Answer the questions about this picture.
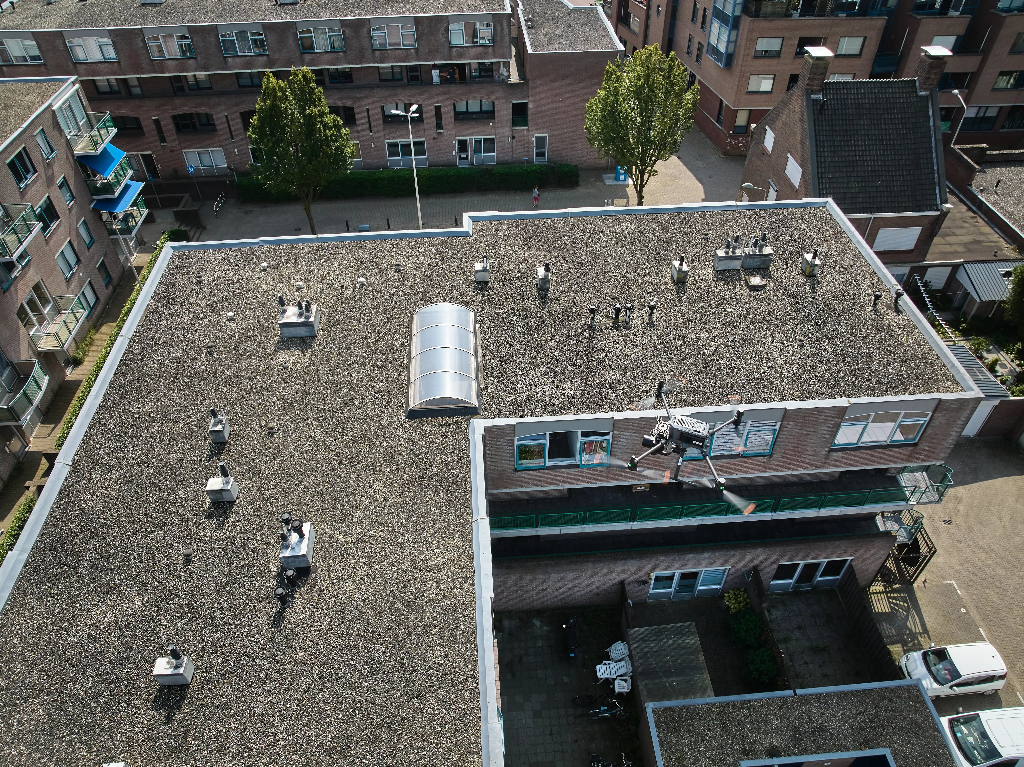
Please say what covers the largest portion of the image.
buildings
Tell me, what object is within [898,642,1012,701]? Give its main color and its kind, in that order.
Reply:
white car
